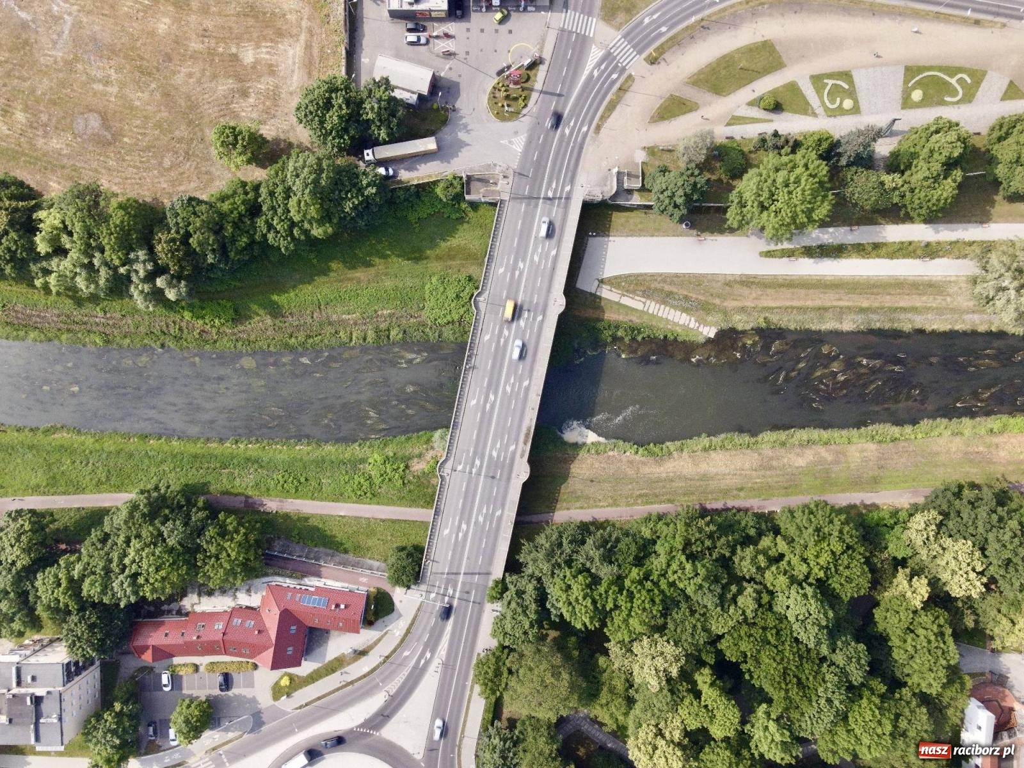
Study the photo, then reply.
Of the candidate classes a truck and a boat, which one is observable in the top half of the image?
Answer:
truck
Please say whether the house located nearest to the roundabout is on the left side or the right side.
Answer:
left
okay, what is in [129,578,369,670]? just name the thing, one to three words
house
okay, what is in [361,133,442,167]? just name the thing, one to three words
truck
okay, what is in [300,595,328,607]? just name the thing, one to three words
solar panel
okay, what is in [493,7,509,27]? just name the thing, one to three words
car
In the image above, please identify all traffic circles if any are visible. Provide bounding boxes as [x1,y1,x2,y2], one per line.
[274,728,426,768]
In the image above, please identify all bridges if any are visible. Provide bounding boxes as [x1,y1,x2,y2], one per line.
[421,182,580,588]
